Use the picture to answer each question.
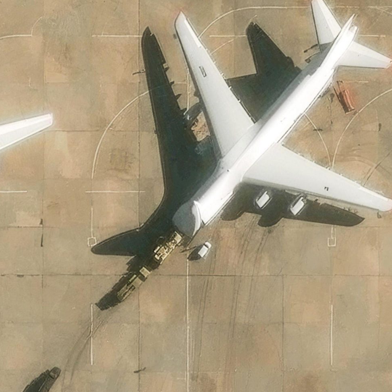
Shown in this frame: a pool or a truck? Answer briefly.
truck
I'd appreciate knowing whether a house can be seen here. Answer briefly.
No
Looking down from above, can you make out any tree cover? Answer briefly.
No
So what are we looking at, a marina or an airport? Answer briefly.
airport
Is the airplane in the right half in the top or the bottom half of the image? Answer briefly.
top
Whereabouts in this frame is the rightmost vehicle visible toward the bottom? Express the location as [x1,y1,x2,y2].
[195,241,213,261]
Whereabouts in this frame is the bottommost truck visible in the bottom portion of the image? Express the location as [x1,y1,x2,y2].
[40,367,64,392]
